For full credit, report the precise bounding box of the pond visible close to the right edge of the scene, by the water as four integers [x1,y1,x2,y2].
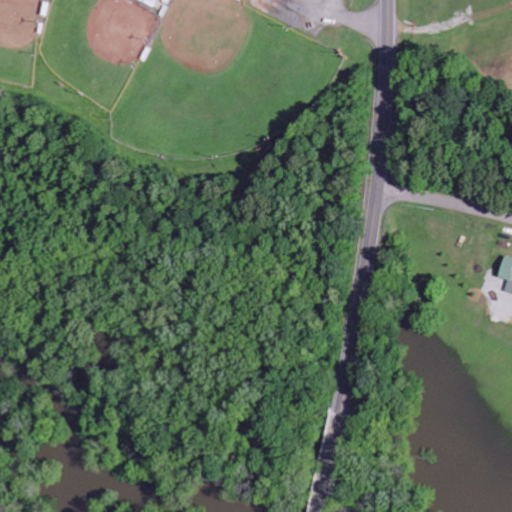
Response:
[386,326,512,512]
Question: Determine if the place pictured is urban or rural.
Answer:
rural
